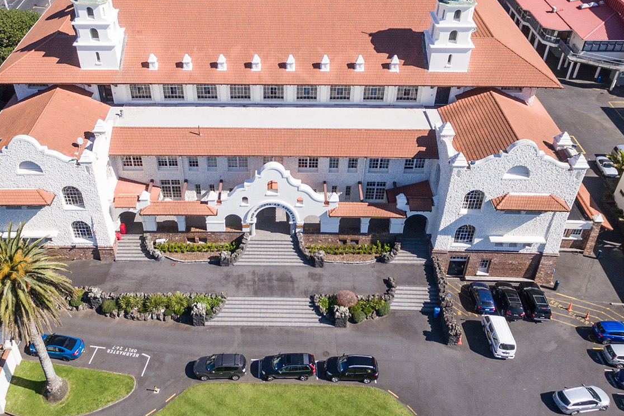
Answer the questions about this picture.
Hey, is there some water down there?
No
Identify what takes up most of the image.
buildings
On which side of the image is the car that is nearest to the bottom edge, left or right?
right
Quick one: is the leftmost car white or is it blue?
blue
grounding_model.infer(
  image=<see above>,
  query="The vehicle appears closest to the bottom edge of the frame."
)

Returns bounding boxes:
[557,384,614,416]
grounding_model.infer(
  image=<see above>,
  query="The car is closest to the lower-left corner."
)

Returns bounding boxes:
[36,334,83,366]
